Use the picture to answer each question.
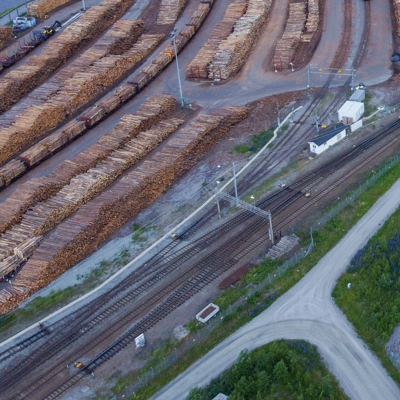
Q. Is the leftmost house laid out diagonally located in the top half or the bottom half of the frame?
top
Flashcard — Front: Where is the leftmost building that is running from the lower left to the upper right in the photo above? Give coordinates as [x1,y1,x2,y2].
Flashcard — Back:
[307,122,352,158]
